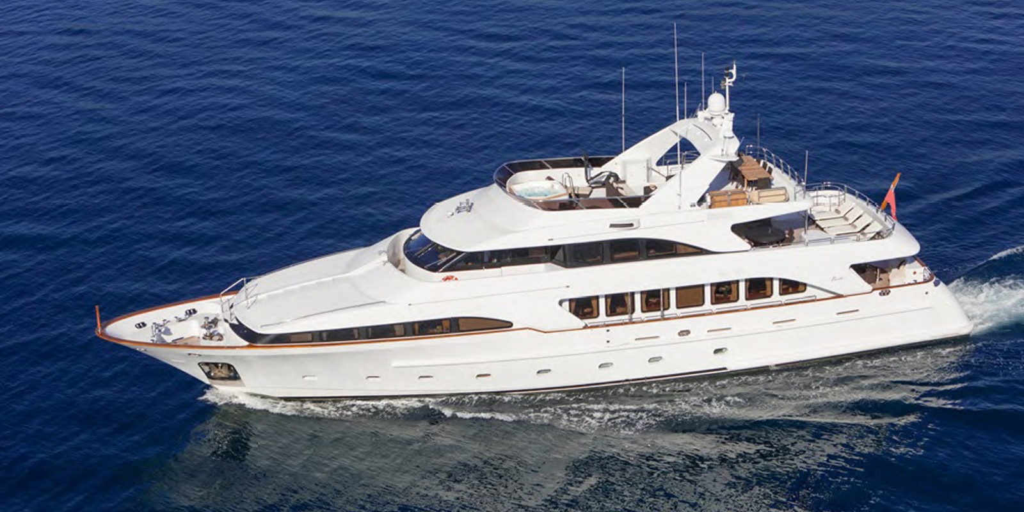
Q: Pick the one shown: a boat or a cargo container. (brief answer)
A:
boat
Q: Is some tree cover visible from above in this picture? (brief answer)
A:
No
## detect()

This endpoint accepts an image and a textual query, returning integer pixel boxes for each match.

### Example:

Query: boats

[95,24,968,397]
